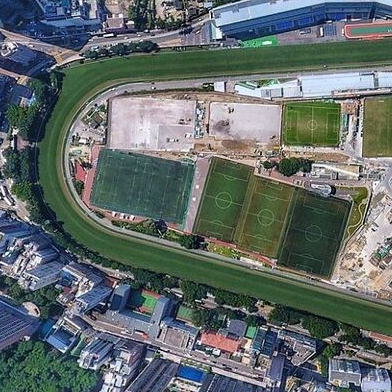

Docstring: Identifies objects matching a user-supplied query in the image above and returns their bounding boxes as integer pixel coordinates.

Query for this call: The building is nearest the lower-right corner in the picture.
[359,368,391,392]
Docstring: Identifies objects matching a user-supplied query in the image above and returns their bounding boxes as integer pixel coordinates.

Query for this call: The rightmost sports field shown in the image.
[362,95,392,158]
